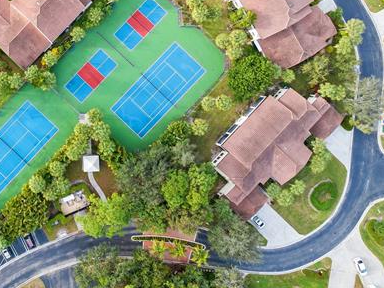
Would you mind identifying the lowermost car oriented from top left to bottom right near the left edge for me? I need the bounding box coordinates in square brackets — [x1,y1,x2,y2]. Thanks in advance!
[2,247,15,262]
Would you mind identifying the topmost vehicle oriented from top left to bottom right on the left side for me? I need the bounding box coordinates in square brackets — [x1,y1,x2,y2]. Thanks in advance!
[22,232,36,251]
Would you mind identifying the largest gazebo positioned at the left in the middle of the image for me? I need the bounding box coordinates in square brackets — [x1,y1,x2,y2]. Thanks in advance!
[82,155,99,172]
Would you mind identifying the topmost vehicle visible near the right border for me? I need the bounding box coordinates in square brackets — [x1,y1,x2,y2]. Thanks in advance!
[355,258,370,278]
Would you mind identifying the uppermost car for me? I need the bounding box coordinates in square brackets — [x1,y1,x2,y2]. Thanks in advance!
[252,216,267,230]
